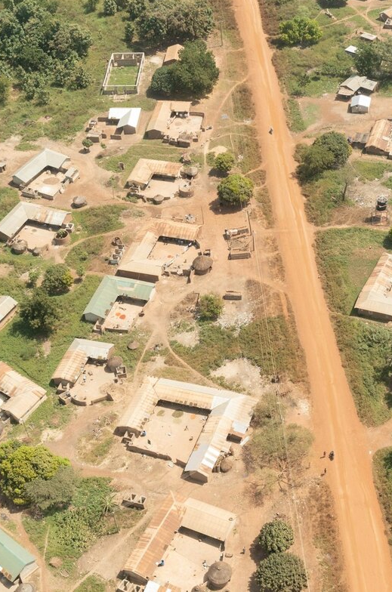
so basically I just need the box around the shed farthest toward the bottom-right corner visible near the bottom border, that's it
[208,564,231,590]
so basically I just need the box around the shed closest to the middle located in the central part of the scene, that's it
[192,258,214,278]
